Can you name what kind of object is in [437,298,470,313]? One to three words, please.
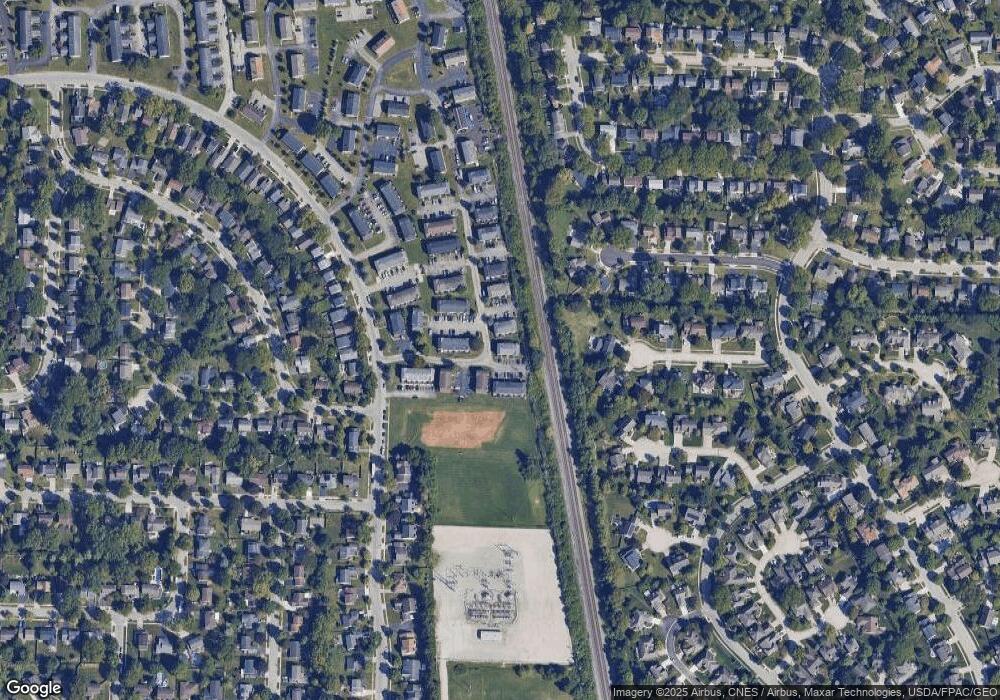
building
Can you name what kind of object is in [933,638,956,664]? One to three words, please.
house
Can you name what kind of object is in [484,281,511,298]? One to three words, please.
building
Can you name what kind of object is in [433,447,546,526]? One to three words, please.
sports field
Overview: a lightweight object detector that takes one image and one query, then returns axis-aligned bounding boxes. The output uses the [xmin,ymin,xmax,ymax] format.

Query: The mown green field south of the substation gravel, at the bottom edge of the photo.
[447,664,580,700]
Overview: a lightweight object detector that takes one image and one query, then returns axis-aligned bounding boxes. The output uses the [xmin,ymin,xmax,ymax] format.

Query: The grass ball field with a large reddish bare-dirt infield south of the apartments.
[388,398,537,452]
